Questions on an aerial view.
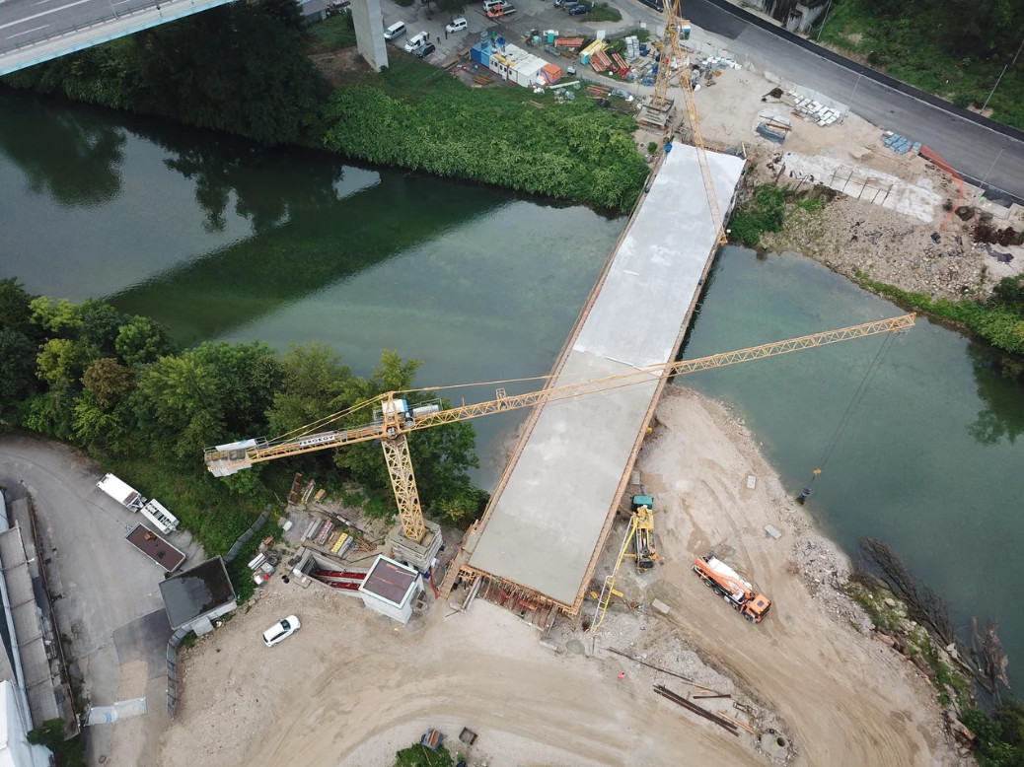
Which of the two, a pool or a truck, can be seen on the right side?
truck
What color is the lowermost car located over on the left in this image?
white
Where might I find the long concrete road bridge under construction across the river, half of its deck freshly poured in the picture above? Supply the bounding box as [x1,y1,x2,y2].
[440,140,753,655]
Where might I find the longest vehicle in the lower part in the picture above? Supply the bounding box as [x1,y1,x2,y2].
[584,482,673,658]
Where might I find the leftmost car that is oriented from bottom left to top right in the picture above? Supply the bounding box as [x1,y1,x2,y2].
[258,614,302,648]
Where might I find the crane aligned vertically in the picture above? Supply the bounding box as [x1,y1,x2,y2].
[641,0,731,243]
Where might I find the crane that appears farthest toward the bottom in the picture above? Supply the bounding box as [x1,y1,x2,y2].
[201,307,920,580]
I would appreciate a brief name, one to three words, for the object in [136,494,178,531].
trailer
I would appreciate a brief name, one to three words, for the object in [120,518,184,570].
trailer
